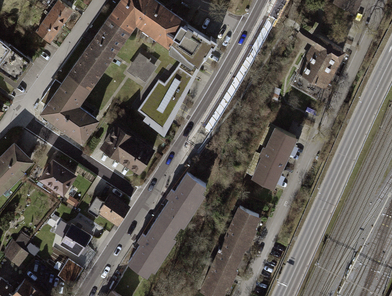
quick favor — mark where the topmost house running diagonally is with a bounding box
[36,0,74,44]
